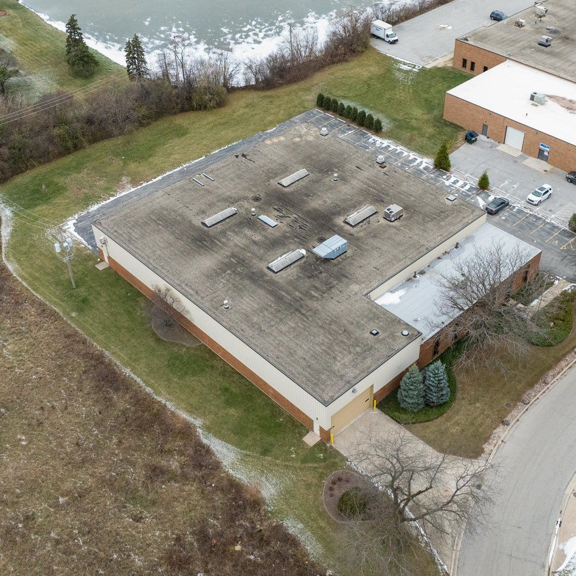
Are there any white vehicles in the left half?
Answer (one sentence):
No, no white vehicle can be made out in the left half.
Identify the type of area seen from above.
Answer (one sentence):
It's an industrial area.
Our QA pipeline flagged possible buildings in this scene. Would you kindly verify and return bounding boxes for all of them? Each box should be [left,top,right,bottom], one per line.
[443,0,576,172]
[90,120,540,451]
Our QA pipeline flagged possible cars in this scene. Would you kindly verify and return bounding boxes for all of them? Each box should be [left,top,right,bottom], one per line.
[563,170,576,184]
[526,182,552,205]
[488,7,506,19]
[485,197,512,216]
